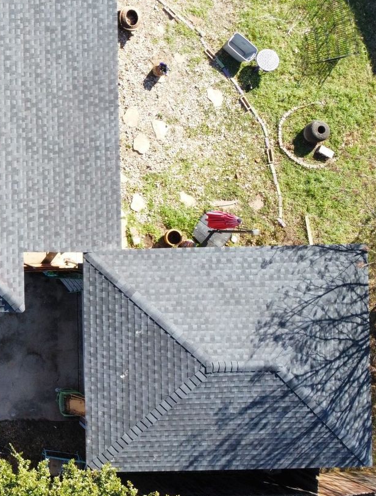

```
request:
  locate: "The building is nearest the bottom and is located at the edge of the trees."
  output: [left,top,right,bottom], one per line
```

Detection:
[74,247,373,471]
